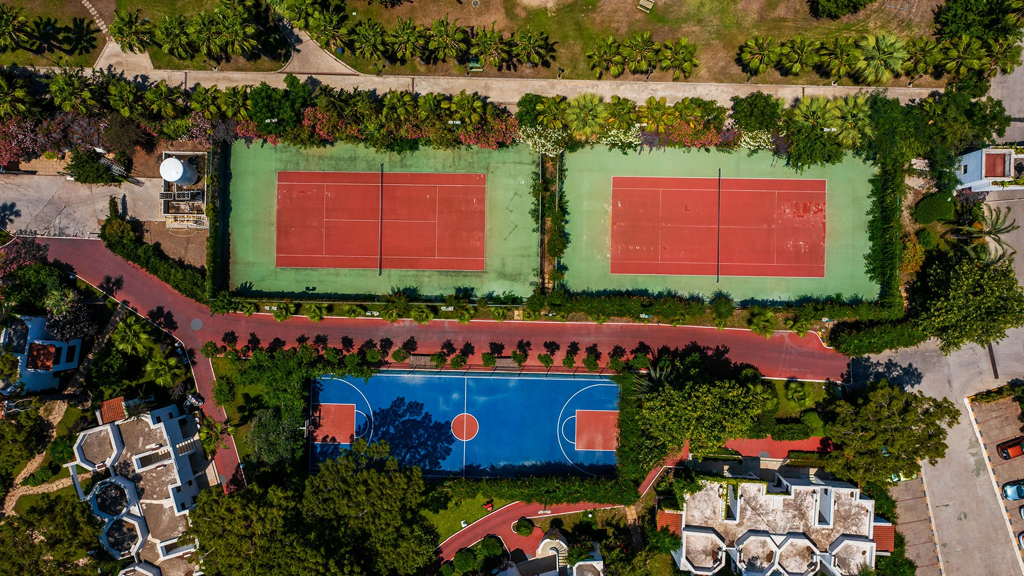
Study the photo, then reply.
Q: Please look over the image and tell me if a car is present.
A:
Yes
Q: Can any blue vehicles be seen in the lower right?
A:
Yes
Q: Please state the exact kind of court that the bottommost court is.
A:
basketball court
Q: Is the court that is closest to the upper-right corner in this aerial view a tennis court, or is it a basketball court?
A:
tennis court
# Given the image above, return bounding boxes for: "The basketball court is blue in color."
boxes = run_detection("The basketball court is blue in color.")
[309,369,621,478]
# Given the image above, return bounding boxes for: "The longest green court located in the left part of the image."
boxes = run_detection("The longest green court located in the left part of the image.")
[226,138,540,301]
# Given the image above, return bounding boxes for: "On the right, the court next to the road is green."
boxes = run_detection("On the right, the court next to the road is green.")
[558,141,880,306]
